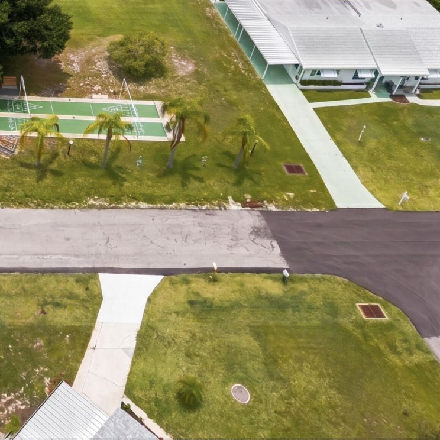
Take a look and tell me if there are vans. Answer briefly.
No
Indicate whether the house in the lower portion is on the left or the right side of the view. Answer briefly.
left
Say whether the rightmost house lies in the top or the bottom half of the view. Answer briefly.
top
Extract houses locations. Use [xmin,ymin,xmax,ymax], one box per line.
[11,379,155,440]
[215,0,440,94]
